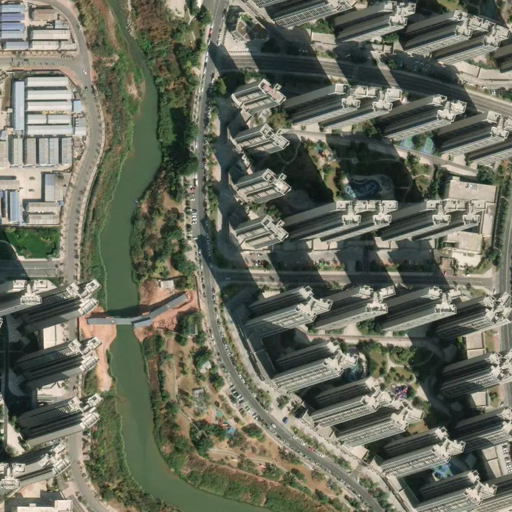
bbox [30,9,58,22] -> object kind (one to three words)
house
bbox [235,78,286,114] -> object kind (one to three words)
building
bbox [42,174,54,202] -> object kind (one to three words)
shed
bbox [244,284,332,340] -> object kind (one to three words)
building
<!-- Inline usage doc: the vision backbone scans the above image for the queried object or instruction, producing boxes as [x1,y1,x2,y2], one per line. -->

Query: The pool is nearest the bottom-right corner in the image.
[342,348,366,382]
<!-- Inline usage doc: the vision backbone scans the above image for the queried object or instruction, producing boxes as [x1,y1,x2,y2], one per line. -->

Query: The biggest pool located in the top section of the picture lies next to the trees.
[343,174,394,202]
